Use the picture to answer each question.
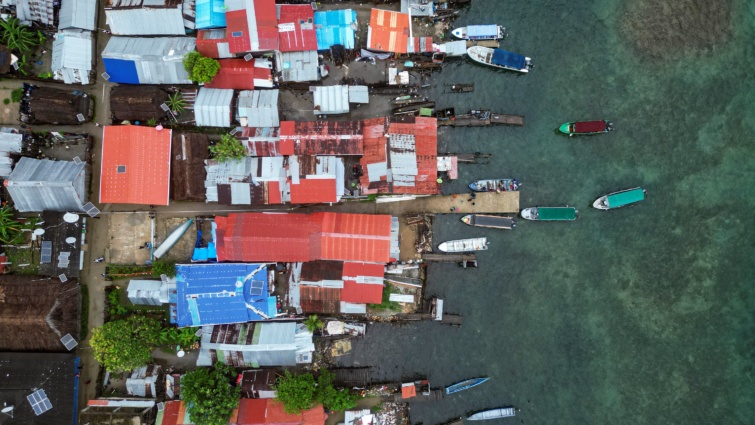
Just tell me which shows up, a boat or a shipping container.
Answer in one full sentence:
This aerial view contains a boat.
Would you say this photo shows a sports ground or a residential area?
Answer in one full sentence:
It's a residential area.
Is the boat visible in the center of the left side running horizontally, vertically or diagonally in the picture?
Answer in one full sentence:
From this overhead view, the boat visible in the center of the left side appears to run diagonally.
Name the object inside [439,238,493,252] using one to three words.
boat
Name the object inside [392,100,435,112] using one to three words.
boat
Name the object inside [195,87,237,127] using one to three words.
house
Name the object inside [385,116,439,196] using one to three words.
house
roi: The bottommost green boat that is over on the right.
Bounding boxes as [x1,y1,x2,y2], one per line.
[521,206,581,221]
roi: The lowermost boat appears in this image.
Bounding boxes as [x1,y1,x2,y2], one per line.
[467,409,520,422]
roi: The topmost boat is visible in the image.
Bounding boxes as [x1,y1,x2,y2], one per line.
[451,21,507,38]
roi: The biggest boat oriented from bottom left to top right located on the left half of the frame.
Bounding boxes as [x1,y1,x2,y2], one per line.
[150,219,192,260]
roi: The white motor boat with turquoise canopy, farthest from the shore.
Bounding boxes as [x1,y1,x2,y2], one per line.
[594,184,650,207]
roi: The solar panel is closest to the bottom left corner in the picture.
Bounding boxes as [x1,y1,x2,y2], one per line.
[27,390,52,415]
